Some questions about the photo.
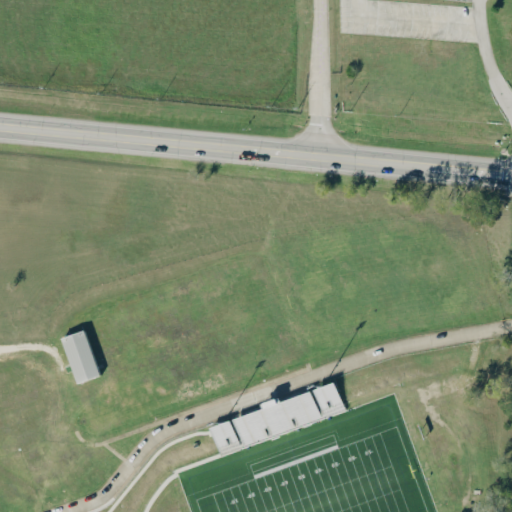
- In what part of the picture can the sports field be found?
bottom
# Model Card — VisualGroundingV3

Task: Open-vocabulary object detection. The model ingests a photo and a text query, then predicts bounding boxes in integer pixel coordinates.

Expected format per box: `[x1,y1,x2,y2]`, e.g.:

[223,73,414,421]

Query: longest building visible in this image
[61,331,102,384]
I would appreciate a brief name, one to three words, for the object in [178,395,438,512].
sports field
